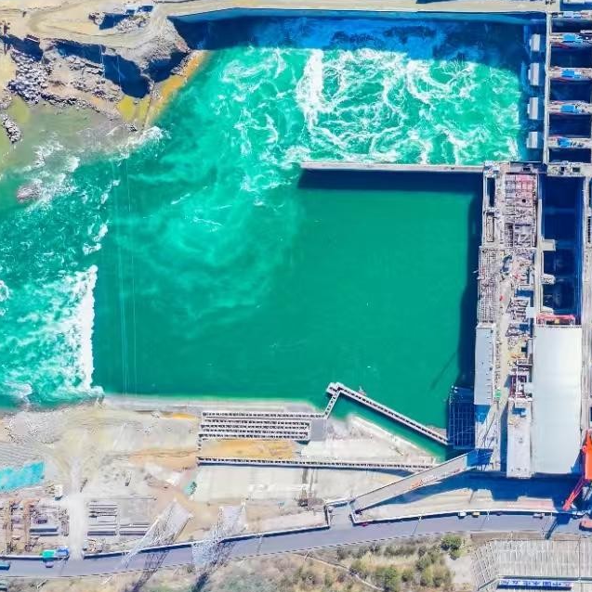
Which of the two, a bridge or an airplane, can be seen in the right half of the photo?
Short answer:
bridge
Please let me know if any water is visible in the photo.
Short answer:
Yes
